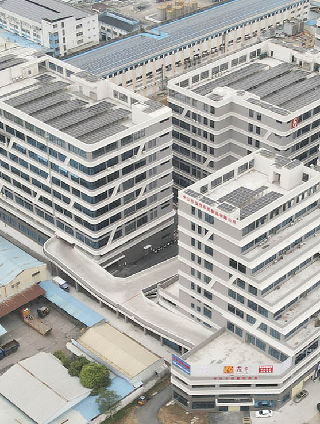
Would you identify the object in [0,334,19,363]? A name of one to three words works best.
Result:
vehicle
